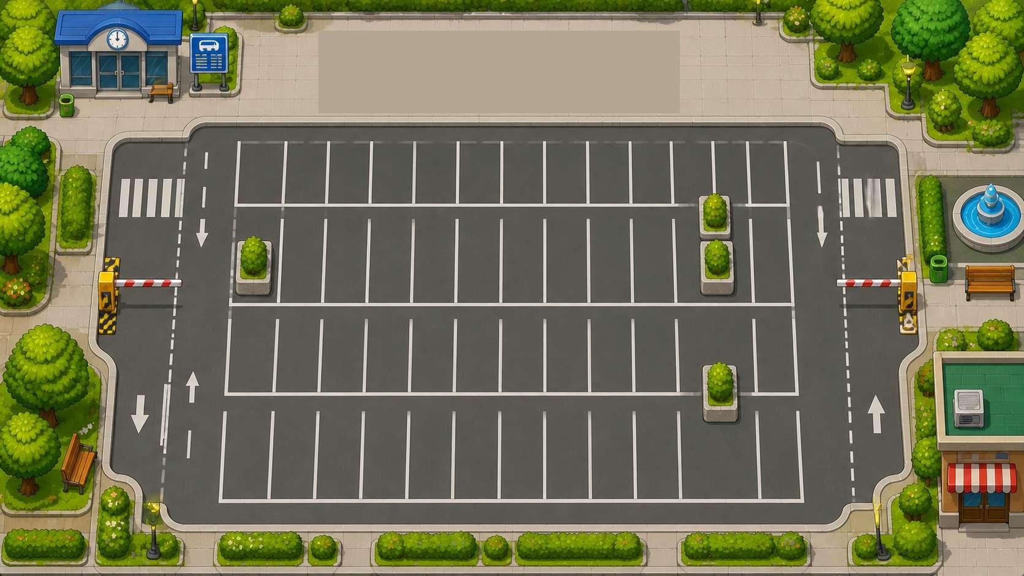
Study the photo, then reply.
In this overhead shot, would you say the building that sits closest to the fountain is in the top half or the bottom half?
bottom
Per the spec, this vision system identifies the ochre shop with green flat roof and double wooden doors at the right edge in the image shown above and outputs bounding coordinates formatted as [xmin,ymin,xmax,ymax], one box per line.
[928,354,1024,534]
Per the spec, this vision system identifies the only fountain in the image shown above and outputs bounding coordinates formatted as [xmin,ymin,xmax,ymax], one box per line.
[954,182,1024,251]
